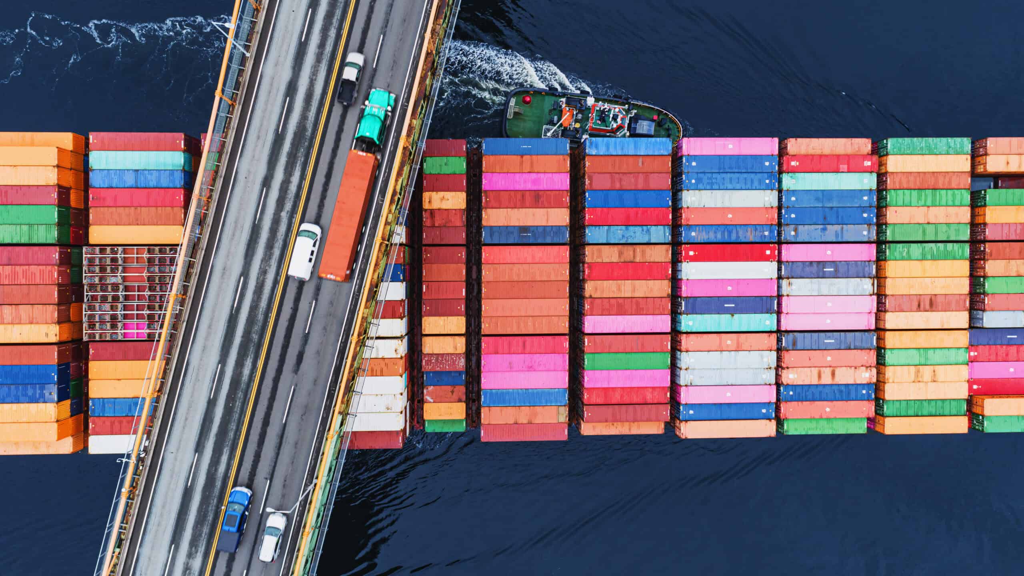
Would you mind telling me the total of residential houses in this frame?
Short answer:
zero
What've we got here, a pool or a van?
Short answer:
van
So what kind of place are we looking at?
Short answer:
port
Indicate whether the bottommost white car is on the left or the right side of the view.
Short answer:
left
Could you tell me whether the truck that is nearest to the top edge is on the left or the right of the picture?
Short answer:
left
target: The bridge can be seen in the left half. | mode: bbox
[97,0,460,576]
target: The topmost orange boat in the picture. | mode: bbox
[561,108,574,127]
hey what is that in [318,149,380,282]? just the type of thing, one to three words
shipping container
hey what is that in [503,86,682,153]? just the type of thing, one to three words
boat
